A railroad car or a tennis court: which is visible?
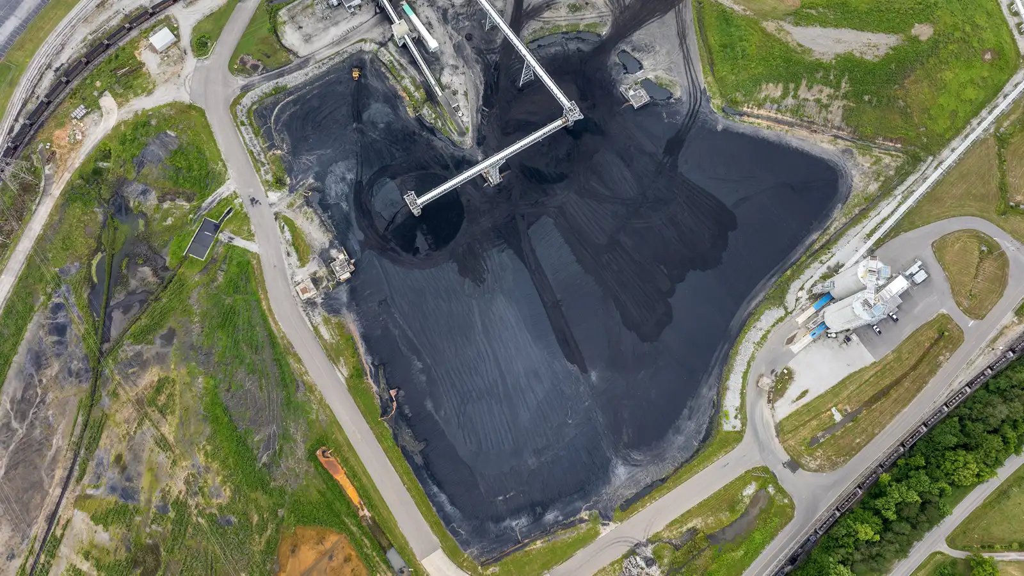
railroad car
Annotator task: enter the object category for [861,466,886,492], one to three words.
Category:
rail car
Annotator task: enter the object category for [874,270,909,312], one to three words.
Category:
building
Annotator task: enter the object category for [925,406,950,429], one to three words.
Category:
rail car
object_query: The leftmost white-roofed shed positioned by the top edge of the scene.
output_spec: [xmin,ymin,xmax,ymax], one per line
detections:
[149,26,178,55]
